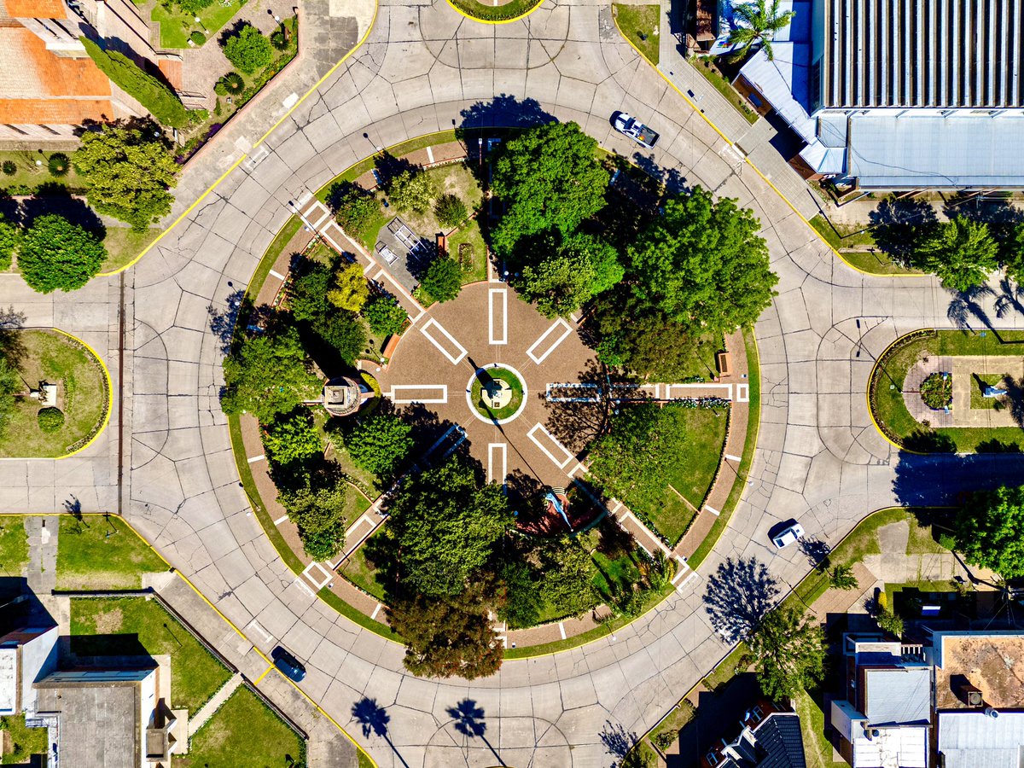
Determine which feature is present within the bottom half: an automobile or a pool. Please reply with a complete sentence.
The feature located within the bottom half is an automobile.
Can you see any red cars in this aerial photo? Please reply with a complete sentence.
No, no red car is visible in the scene.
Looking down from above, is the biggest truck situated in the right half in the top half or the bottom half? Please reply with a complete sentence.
You can find the biggest truck situated in the right half in the top half.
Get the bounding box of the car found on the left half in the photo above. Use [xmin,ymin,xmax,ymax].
[272,652,308,684]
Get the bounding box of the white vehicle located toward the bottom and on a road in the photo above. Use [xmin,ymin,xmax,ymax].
[774,526,809,551]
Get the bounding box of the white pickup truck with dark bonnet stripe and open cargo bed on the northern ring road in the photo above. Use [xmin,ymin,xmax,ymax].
[615,112,661,147]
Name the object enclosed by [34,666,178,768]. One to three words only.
building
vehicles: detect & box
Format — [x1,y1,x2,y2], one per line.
[272,652,308,684]
[615,112,661,147]
[774,526,809,551]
